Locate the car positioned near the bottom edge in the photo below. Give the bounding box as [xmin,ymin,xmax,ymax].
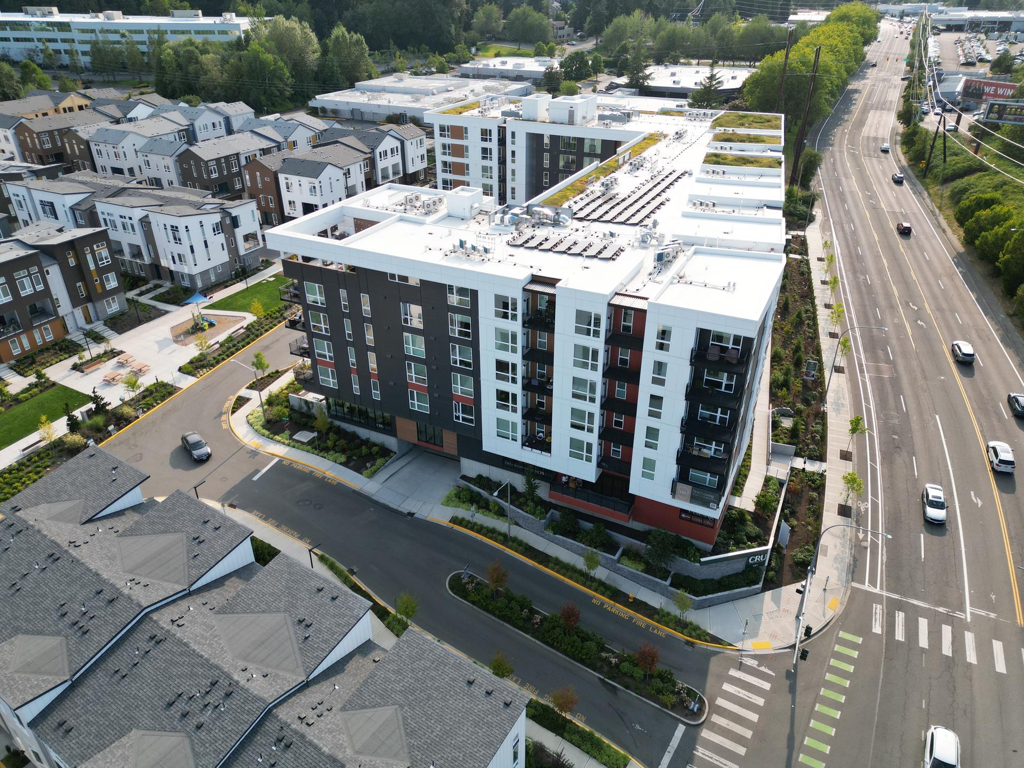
[922,721,958,768]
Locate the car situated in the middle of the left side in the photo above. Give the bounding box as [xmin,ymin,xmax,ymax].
[179,432,210,462]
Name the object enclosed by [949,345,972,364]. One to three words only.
car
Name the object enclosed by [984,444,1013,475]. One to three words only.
car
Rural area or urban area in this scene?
urban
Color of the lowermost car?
white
